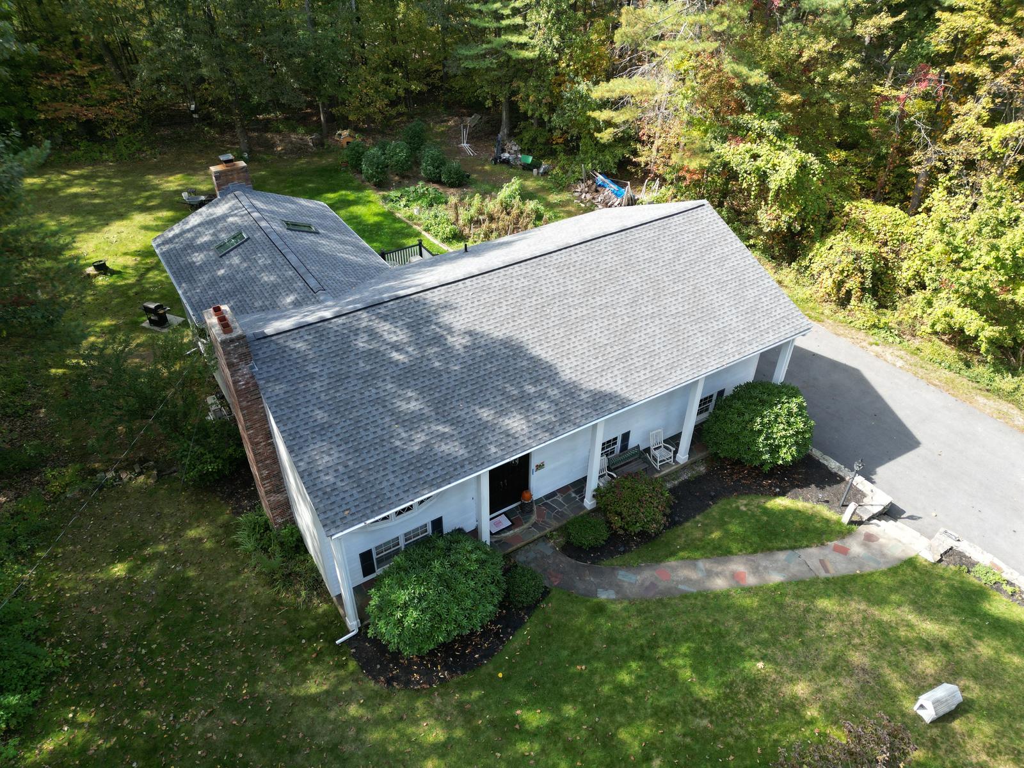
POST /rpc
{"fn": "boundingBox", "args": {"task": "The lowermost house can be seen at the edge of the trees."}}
[152,149,814,656]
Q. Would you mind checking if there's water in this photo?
No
